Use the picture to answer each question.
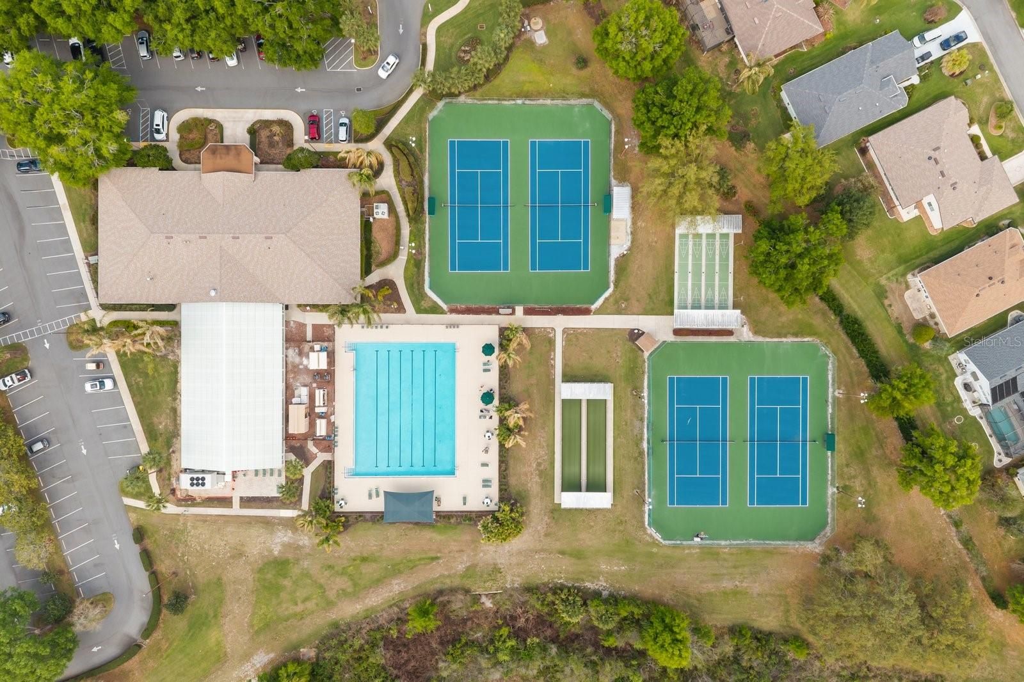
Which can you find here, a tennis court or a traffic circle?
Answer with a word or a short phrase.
tennis court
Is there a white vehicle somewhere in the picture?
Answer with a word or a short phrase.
Yes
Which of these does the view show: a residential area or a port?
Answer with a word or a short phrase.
residential area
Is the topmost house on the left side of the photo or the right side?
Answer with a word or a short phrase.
right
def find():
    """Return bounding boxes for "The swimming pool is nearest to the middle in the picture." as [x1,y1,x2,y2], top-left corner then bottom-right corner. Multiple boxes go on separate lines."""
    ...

[335,324,498,512]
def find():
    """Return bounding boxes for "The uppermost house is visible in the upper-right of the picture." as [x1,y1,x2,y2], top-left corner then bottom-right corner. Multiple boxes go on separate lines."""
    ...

[716,0,824,67]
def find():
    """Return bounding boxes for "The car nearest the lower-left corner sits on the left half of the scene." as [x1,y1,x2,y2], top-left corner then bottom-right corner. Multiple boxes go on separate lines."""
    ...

[27,437,53,456]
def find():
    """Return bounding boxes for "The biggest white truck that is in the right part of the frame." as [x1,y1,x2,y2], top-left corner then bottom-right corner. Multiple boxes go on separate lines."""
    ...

[911,27,943,49]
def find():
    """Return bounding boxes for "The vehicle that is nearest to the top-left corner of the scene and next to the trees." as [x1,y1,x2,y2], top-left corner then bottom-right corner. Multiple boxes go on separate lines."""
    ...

[1,46,19,73]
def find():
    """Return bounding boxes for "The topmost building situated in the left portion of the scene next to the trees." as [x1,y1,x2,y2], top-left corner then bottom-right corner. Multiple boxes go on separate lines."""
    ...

[98,144,363,304]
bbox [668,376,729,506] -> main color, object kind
blue tennis court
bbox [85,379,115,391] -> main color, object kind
white vehicle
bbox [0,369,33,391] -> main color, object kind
white truck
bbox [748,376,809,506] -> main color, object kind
blue tennis court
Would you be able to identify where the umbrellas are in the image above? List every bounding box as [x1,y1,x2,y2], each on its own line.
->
[482,343,495,356]
[481,391,494,405]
